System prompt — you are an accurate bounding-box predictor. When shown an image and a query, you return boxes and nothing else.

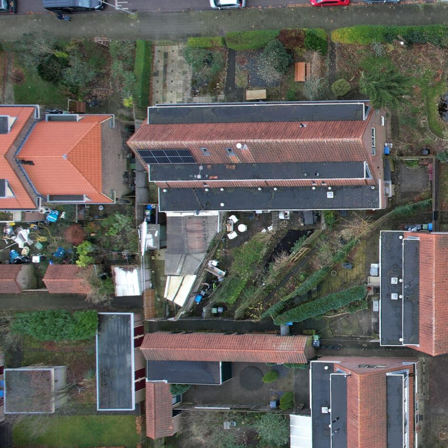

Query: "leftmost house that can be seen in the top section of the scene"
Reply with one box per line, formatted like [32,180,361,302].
[0,105,71,212]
